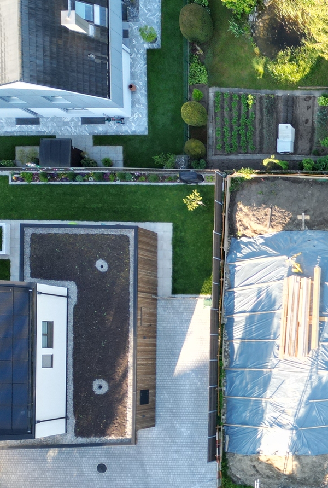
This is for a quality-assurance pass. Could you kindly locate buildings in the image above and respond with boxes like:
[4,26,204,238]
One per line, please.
[40,139,91,171]
[0,225,159,442]
[0,0,130,117]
